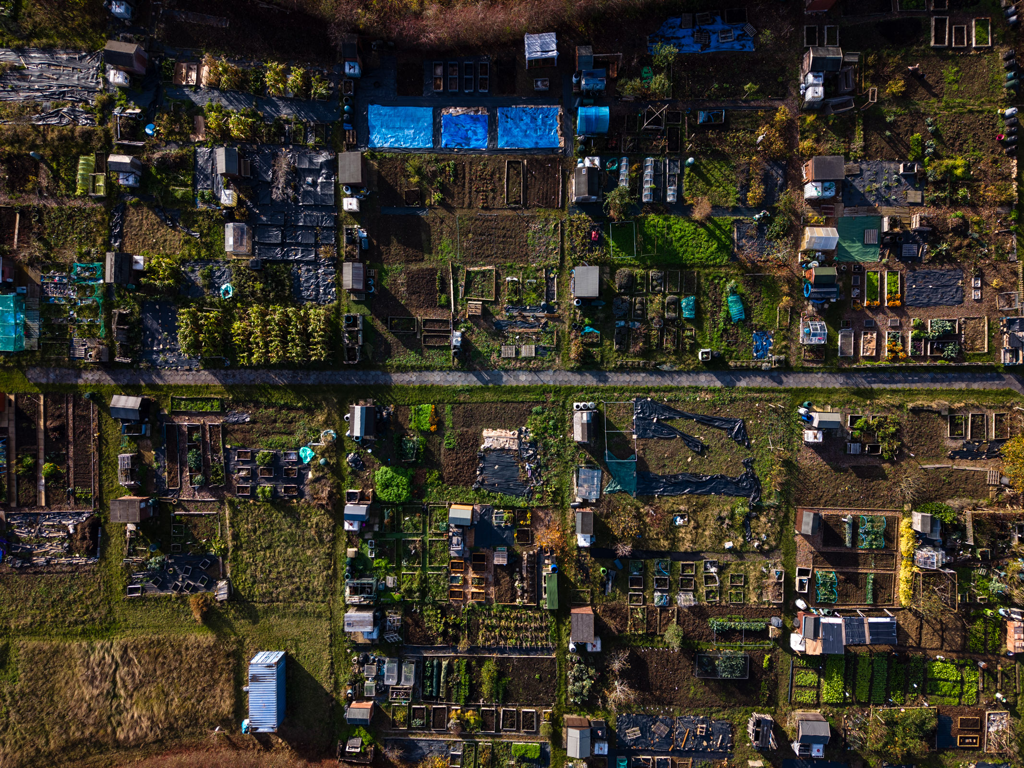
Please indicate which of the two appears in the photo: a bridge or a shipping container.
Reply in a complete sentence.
Of the two, only a shipping container appears.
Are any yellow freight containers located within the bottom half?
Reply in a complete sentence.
No, no yellow freight container is visible within the bottom half.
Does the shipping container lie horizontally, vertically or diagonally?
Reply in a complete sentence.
I'd say the shipping container is aligned vertically in the picture.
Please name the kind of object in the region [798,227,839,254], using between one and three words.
greenhouse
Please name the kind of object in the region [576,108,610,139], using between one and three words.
greenhouse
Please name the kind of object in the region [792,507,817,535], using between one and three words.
shed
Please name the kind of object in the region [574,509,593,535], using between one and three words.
shed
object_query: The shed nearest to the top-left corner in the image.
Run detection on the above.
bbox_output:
[104,42,149,77]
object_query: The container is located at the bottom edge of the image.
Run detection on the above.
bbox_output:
[248,650,288,734]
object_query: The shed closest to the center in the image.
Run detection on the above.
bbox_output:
[572,411,592,442]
